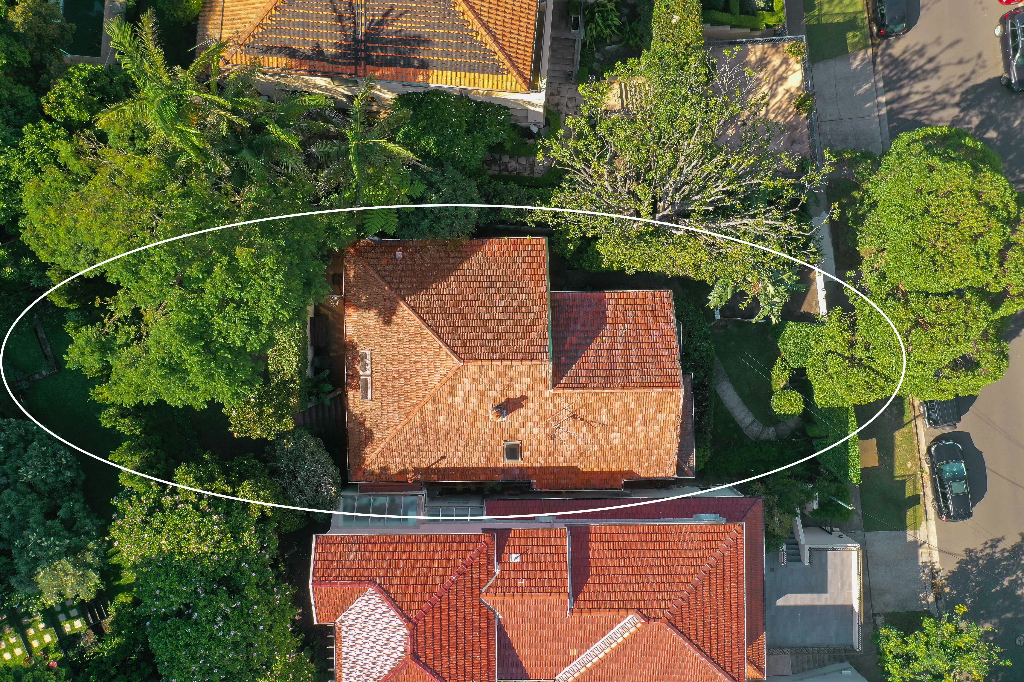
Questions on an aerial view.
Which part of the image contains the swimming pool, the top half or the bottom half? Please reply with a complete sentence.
The swimming pool is in the top half of the image.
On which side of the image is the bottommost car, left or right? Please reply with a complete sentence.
It is on the right.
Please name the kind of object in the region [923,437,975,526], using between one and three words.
car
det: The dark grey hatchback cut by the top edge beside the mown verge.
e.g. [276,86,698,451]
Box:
[870,0,910,42]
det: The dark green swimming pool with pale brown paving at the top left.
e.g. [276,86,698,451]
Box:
[42,0,130,70]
